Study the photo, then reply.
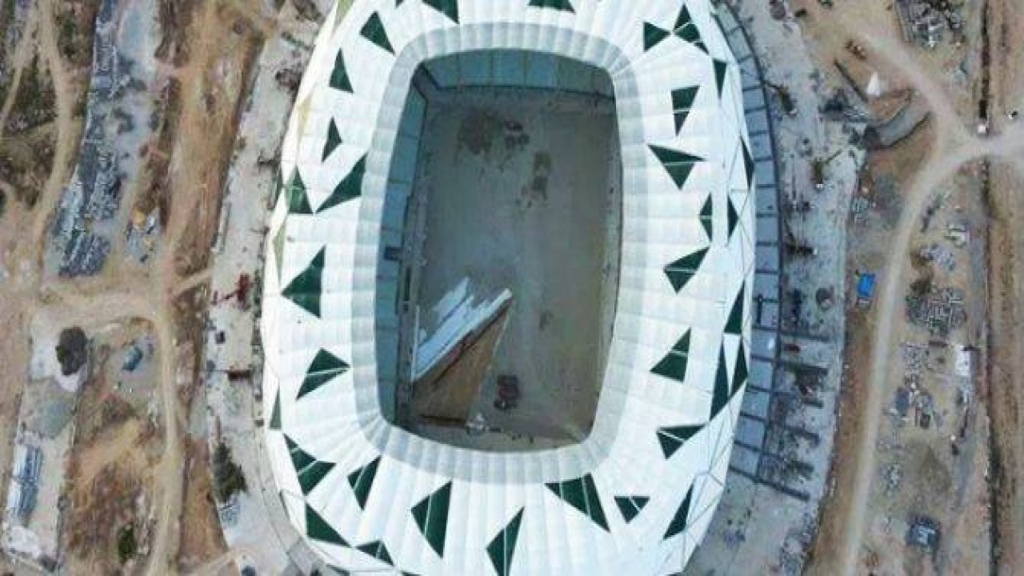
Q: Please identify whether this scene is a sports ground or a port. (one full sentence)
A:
This image shows a sports ground.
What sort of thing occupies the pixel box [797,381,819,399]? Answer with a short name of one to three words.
vehicle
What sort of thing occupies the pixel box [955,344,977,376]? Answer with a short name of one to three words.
shed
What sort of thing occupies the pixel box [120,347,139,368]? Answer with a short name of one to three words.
vehicle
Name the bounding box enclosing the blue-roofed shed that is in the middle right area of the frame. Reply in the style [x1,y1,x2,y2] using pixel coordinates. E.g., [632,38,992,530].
[857,272,879,296]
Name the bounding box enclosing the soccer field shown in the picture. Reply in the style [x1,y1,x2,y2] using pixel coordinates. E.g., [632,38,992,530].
[386,88,622,453]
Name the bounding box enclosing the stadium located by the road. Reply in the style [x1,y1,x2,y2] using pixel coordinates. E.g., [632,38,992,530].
[261,0,756,576]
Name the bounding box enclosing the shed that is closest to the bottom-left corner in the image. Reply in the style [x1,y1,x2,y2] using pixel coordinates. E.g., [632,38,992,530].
[0,483,29,526]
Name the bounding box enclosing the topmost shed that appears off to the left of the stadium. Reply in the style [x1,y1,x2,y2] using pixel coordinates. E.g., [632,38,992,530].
[6,444,39,486]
